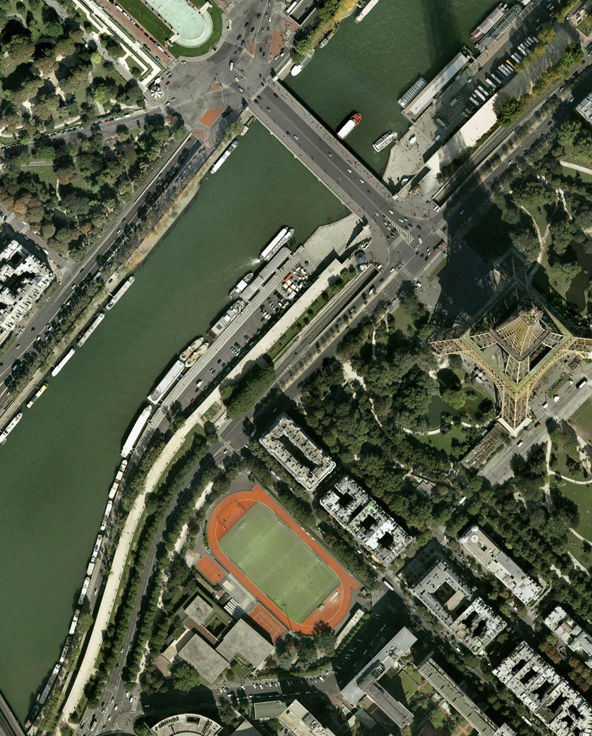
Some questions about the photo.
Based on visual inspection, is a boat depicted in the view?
Yes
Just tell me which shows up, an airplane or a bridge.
bridge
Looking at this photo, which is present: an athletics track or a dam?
athletics track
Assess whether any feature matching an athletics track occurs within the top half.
No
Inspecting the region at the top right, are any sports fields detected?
No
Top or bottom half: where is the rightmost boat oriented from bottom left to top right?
top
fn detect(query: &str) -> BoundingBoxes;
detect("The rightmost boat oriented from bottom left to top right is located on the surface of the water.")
[469,8,503,43]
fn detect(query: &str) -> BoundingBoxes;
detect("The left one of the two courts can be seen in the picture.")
[194,555,228,586]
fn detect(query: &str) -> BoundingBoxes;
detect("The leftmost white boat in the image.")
[0,414,23,444]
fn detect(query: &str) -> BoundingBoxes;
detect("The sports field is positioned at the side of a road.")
[203,465,382,639]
